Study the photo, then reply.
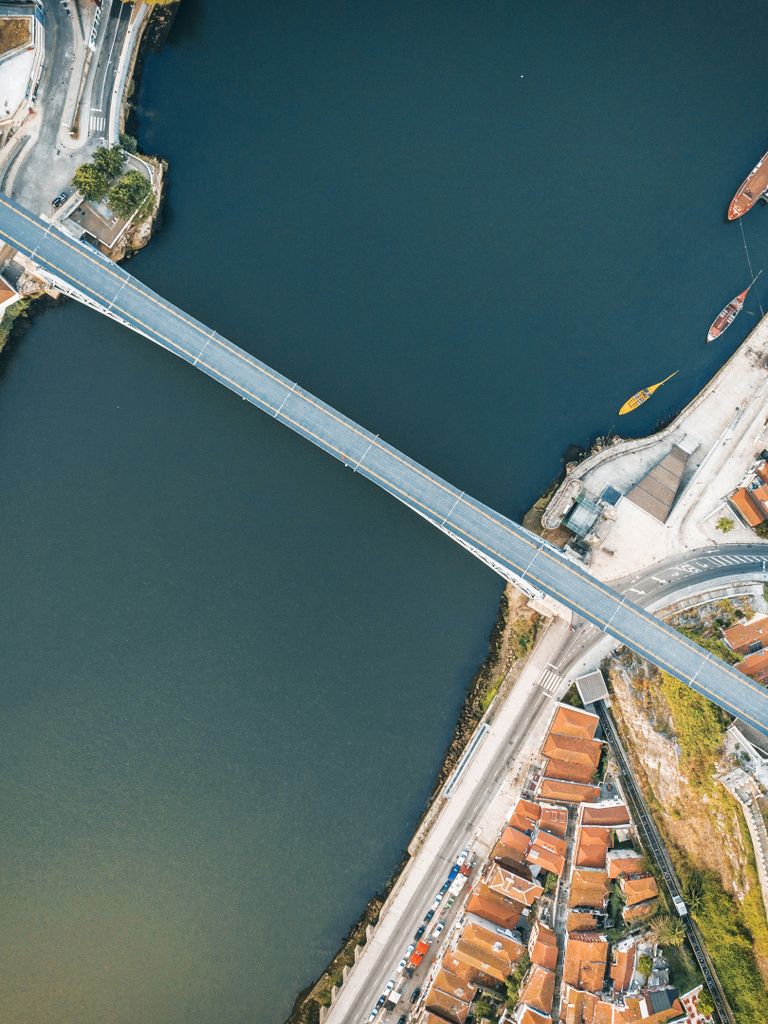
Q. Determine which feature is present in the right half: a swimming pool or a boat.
boat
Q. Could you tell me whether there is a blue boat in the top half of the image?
No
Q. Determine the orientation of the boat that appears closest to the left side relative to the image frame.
diagonally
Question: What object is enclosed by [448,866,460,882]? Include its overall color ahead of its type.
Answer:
blue vehicle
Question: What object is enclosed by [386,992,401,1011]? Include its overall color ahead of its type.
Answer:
white vehicle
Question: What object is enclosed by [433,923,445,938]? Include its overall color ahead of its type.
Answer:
white vehicle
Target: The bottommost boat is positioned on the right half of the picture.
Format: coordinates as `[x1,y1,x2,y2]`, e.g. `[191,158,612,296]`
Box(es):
[619,370,679,415]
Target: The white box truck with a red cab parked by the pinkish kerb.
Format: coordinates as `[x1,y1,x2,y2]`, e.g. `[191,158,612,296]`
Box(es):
[449,870,470,900]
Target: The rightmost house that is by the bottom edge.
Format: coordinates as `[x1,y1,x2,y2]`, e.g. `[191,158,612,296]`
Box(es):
[675,979,708,1024]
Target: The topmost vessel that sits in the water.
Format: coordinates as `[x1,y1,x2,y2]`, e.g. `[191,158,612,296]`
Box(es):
[725,144,768,222]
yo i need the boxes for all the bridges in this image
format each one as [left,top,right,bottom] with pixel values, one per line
[0,192,768,737]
